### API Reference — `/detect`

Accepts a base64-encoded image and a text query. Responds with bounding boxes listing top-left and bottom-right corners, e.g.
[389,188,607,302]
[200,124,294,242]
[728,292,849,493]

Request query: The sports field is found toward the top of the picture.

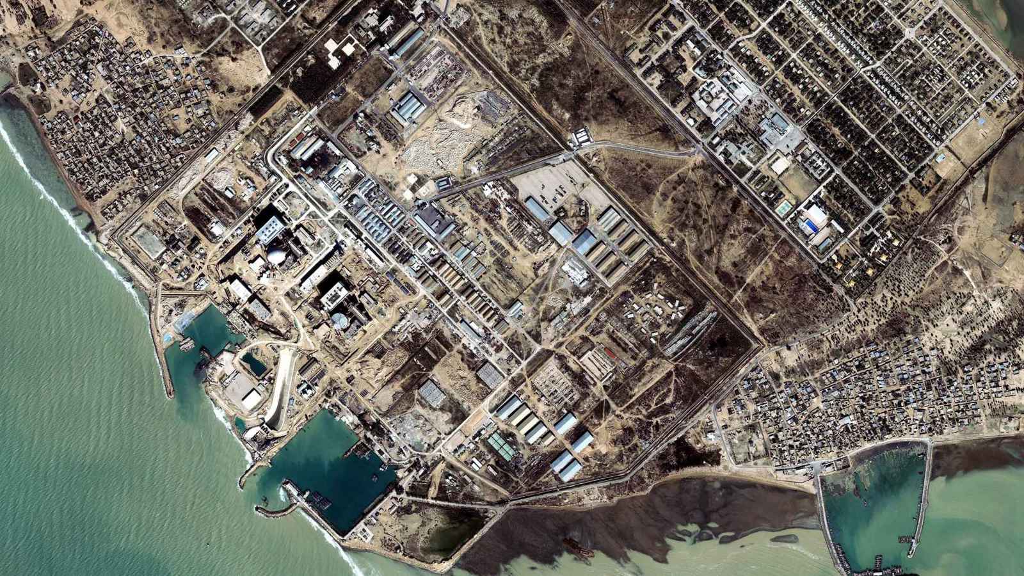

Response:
[781,164,818,201]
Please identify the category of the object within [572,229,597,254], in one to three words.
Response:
building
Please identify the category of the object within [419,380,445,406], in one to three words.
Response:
building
